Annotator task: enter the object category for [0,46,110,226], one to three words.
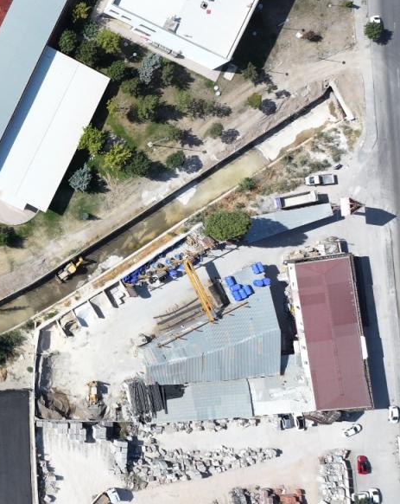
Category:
building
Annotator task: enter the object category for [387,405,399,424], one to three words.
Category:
vehicle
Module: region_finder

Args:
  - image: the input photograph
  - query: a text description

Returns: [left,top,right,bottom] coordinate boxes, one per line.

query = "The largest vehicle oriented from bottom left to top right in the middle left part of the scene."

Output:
[52,261,84,284]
